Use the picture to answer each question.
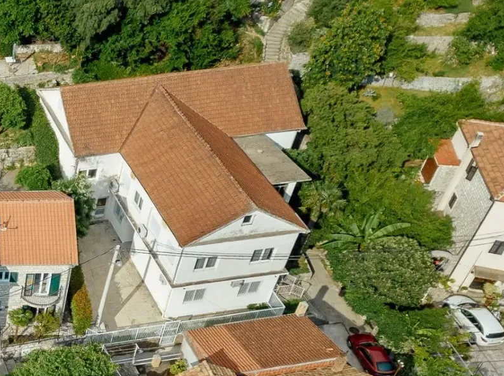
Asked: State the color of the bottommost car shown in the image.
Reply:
red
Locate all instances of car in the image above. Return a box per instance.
[448,302,504,350]
[342,334,407,376]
